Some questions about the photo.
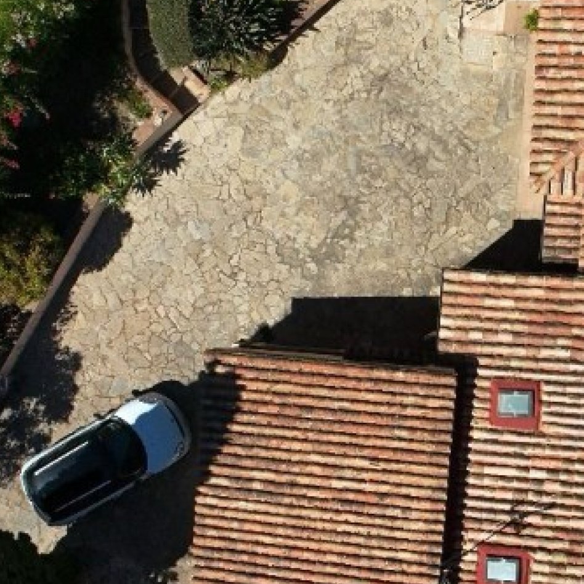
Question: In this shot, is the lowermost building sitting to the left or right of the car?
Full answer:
Relative to the car, the lowermost building is on the right.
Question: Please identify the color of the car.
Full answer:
From above, the car appears black.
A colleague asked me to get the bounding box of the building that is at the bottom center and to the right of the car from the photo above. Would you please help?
[188,345,458,584]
